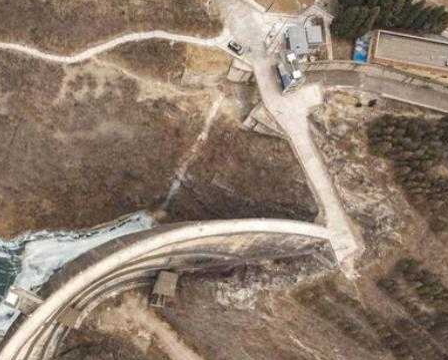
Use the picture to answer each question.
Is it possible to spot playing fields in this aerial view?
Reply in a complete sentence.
No, no playing field is visible in the view.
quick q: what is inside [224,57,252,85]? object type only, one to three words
building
